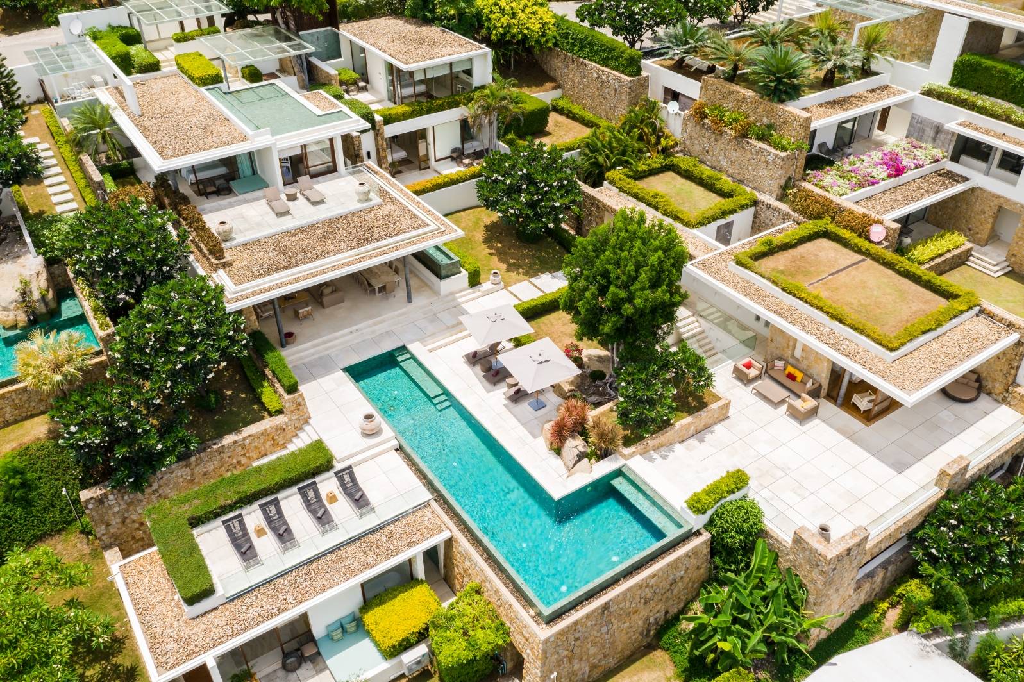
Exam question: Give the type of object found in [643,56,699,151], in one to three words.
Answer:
shed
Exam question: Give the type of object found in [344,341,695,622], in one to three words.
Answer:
swimming pool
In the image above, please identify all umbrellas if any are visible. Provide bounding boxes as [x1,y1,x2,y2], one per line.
[494,340,582,410]
[454,305,536,369]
